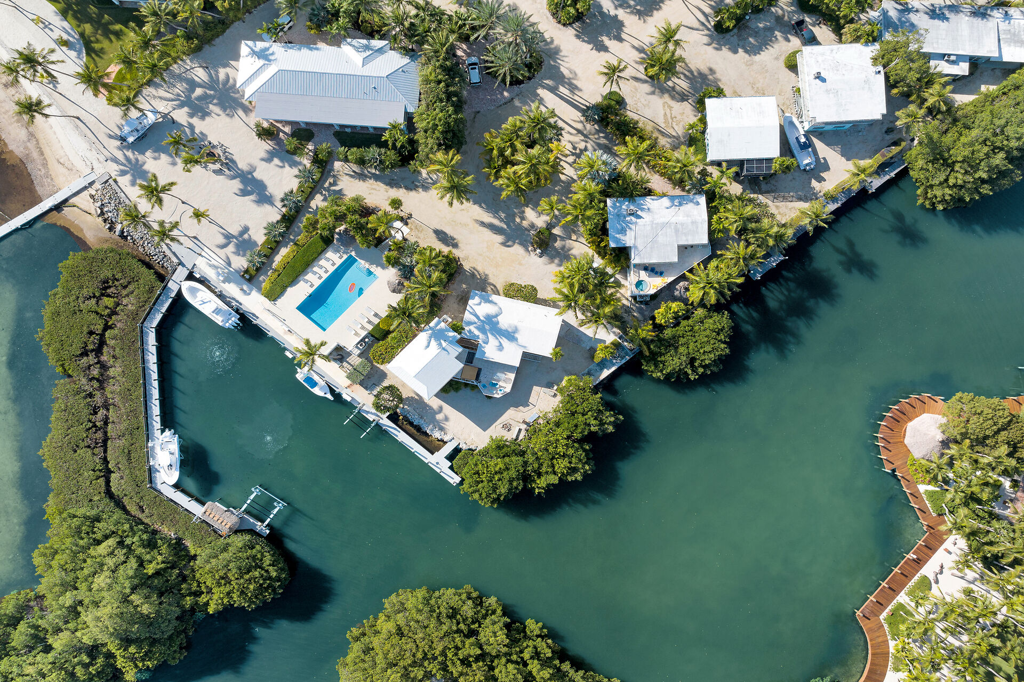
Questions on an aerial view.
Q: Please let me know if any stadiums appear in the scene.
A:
No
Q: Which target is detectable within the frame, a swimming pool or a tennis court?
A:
swimming pool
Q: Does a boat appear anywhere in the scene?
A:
Yes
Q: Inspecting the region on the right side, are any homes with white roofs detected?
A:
Yes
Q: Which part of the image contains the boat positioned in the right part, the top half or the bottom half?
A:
top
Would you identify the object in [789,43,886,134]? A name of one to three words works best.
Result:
house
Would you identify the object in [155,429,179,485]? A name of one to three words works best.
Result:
boat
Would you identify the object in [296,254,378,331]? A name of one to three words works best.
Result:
swimming pool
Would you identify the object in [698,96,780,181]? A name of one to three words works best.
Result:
house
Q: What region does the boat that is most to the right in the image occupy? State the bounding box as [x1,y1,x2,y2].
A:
[786,115,816,175]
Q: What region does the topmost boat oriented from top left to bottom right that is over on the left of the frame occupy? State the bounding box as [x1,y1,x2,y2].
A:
[182,284,245,332]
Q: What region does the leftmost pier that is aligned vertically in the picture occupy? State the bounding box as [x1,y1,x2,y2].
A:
[140,263,271,536]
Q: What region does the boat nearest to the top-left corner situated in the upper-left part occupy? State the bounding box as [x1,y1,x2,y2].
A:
[120,113,155,145]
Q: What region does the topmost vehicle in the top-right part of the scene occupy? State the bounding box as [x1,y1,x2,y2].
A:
[794,15,820,45]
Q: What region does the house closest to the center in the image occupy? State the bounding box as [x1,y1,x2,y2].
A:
[456,290,562,398]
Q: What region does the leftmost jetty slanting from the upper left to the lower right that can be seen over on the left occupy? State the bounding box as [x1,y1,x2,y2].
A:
[189,261,461,485]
